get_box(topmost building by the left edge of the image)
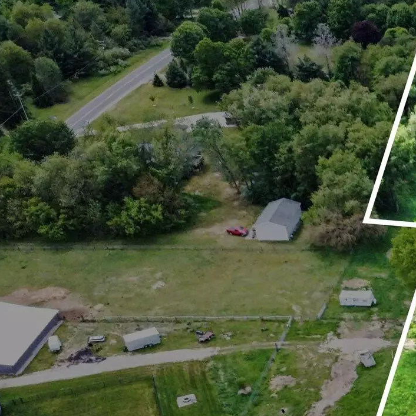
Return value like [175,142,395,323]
[0,301,72,380]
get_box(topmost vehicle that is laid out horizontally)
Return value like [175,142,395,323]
[222,224,251,237]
